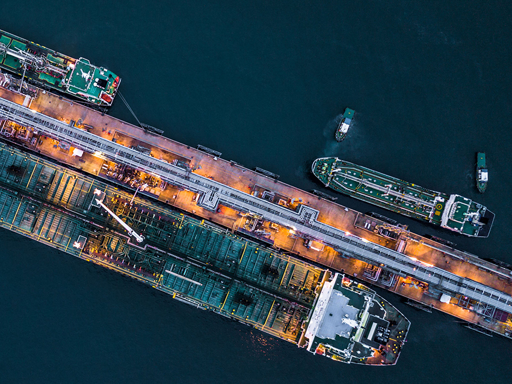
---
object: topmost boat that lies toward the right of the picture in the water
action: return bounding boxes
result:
[337,107,355,142]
